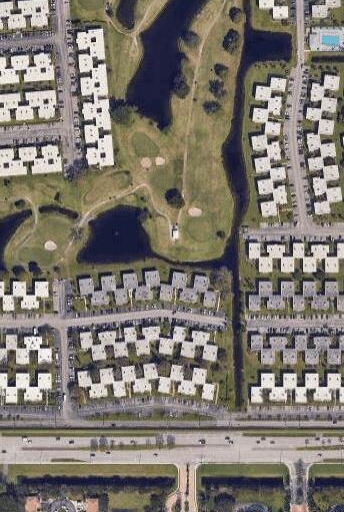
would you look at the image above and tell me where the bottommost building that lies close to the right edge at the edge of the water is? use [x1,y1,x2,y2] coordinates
[251,372,344,403]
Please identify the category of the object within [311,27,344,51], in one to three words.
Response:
swimming pool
